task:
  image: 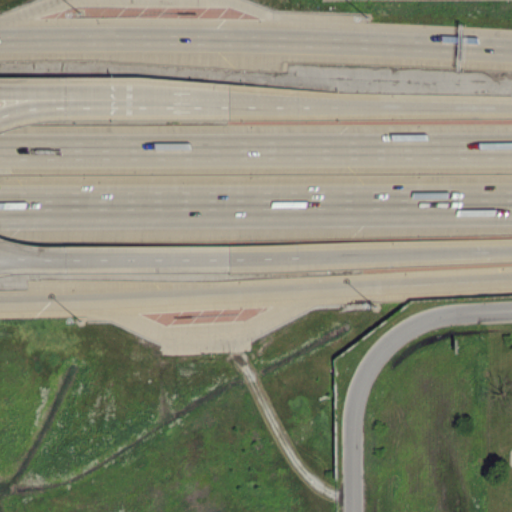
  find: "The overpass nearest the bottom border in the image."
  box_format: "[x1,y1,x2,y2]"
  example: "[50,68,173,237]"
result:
[0,237,512,277]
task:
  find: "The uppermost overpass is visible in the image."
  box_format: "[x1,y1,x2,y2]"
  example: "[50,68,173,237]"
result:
[0,76,512,134]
